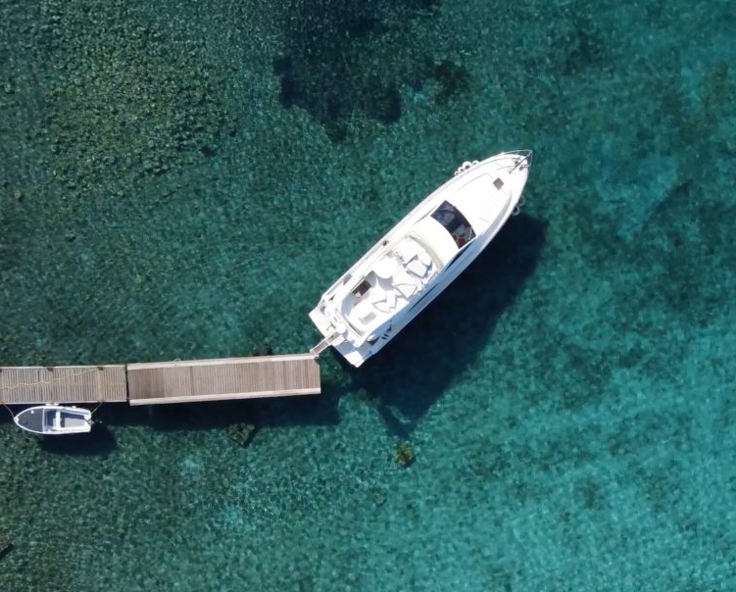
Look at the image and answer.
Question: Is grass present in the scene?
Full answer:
No, no grass is visible.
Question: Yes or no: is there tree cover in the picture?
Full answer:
No, tree cover can't be seen anywhere here.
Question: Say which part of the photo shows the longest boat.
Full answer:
The longest boat appears toward the center of the photo.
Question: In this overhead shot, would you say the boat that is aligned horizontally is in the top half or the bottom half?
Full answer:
The boat that is aligned horizontally is in the bottom half of the image.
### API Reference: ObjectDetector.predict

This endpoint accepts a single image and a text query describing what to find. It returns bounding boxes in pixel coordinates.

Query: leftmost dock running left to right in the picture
[0,366,127,405]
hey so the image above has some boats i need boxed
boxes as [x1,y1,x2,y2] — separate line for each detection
[310,151,529,365]
[13,405,99,434]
